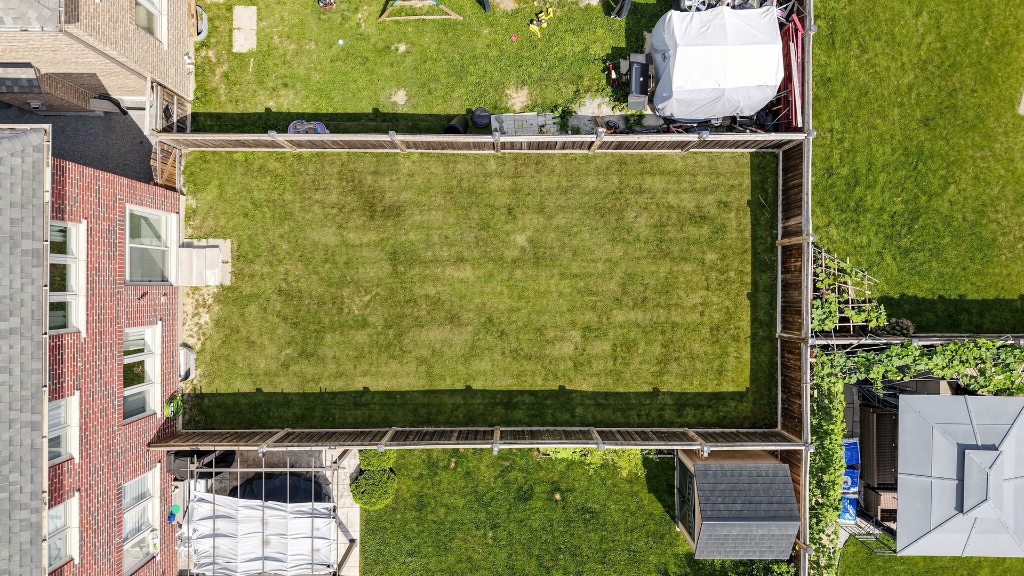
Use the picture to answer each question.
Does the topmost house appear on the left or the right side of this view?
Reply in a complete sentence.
You can find the topmost house on the left side of the picture.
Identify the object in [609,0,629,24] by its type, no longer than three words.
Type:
umbrella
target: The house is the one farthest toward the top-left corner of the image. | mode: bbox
[0,0,194,119]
